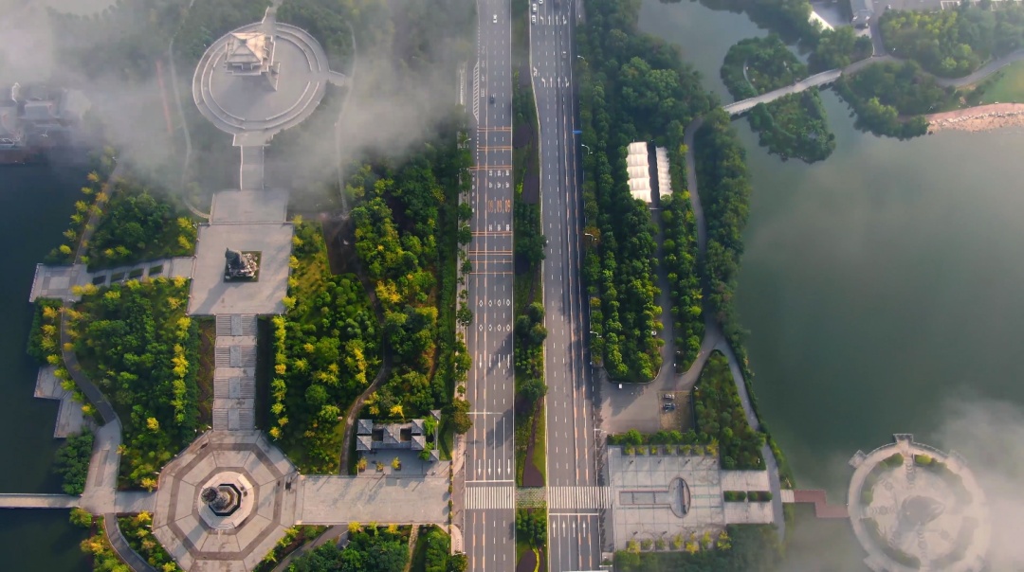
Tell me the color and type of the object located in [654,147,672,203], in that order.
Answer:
white tent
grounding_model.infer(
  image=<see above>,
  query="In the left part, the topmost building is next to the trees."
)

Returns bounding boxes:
[223,36,286,92]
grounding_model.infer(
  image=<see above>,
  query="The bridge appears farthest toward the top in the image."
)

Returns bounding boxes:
[723,65,846,118]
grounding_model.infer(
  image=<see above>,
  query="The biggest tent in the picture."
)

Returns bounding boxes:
[628,143,651,205]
